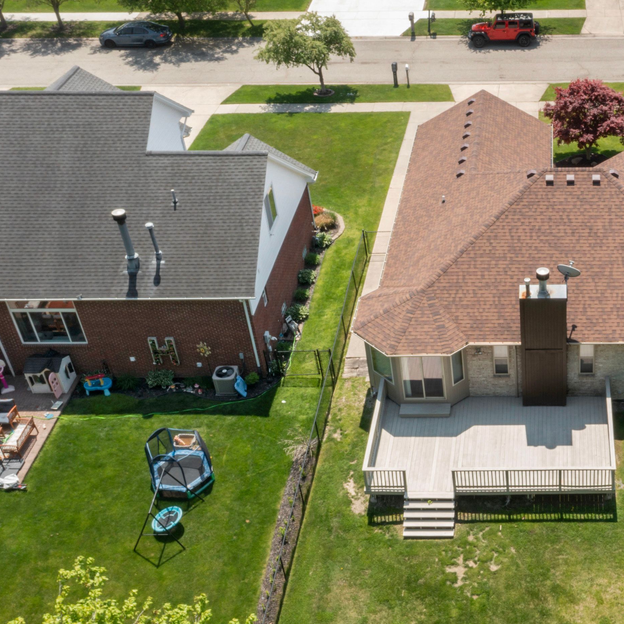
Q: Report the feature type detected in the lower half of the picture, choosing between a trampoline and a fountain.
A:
trampoline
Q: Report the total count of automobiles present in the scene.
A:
2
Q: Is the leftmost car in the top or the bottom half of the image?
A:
top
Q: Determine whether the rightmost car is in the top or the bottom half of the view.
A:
top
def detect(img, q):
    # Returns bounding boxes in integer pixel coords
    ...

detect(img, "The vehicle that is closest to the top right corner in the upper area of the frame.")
[467,11,540,47]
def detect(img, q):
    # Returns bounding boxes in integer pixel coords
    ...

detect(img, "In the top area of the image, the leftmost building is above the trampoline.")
[0,64,317,381]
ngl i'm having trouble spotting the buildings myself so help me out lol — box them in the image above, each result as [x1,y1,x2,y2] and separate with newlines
[347,87,624,414]
[0,64,317,381]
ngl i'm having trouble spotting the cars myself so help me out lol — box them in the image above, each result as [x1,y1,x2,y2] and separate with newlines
[102,15,177,46]
[467,11,540,47]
